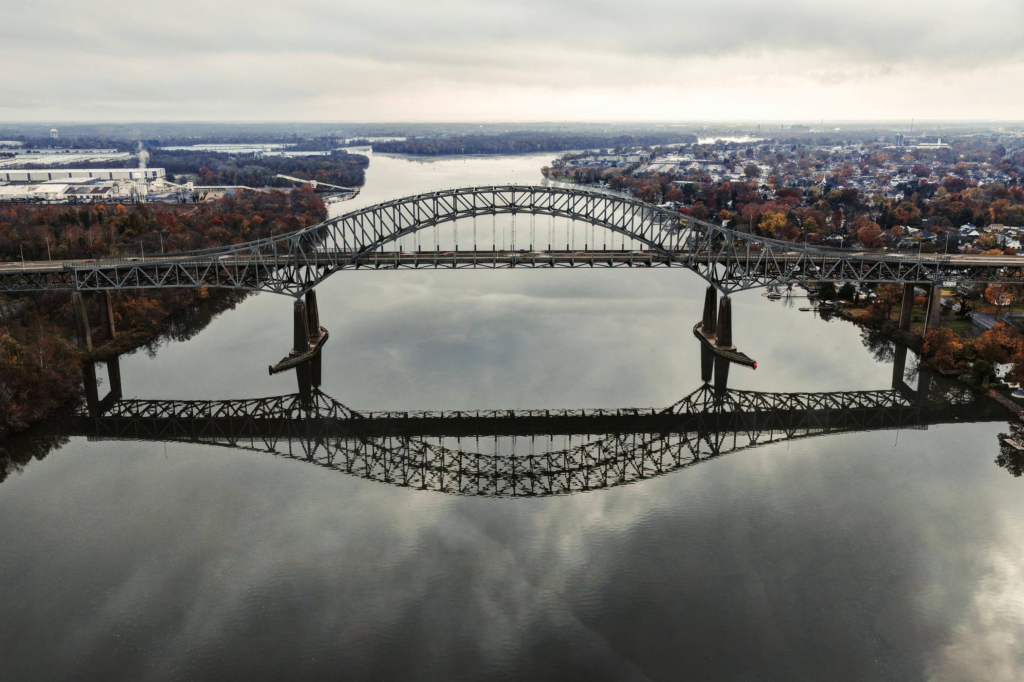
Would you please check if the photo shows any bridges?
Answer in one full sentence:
Yes, the frame does contain a bridge.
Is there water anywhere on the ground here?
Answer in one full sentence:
Yes, water shows up in the scene.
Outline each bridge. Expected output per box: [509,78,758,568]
[72,183,942,297]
